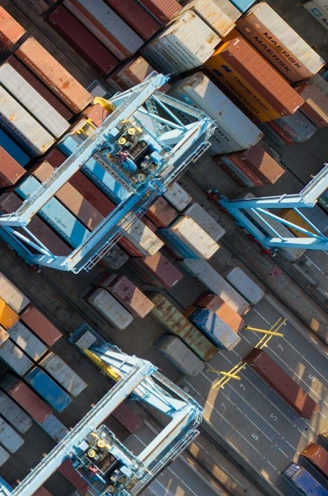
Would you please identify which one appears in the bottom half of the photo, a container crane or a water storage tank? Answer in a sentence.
The one visible in the bottom half of the photo is a container crane.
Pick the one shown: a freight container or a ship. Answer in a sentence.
It is a freight container that can be seen here.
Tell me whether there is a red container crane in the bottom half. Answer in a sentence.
No, I can find no red container crane in the bottom half.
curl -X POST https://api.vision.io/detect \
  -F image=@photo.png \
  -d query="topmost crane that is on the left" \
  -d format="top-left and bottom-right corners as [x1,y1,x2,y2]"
[0,68,225,287]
